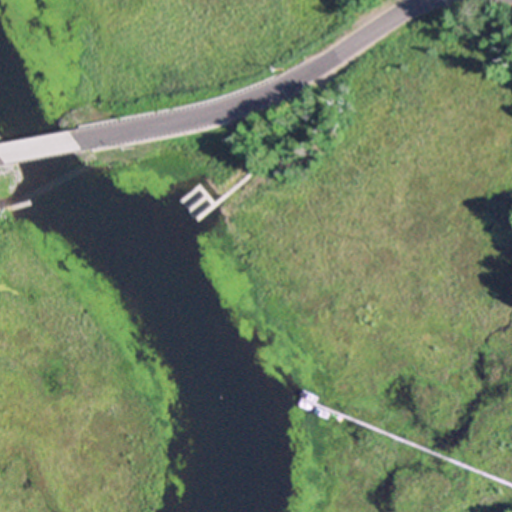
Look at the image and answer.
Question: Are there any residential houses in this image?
No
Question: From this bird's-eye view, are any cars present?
No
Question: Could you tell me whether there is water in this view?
Yes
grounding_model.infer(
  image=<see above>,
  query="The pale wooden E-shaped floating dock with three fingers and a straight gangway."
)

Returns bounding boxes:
[181,172,252,219]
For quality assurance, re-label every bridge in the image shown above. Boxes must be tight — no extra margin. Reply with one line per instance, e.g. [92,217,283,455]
[0,127,80,168]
